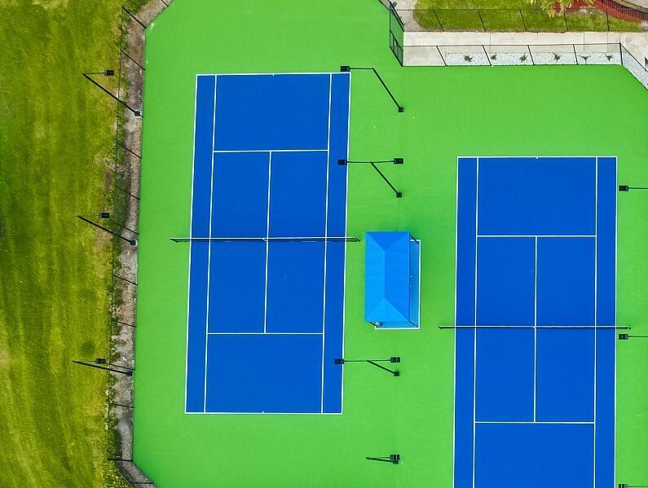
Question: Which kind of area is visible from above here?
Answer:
sports ground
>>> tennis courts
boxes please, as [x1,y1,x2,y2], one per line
[453,157,617,488]
[185,72,349,414]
